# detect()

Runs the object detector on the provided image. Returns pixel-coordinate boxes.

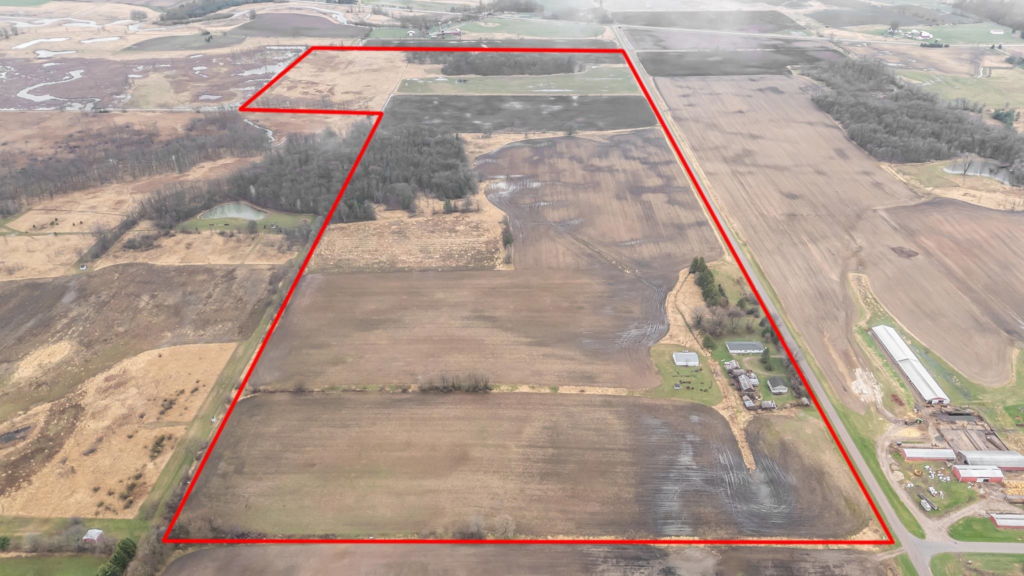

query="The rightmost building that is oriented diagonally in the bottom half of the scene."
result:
[870,324,950,405]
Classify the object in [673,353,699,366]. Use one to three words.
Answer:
shed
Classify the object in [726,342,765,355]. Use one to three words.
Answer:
house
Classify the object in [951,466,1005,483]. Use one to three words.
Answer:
barn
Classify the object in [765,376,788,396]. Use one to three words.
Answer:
house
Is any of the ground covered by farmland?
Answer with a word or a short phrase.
Yes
